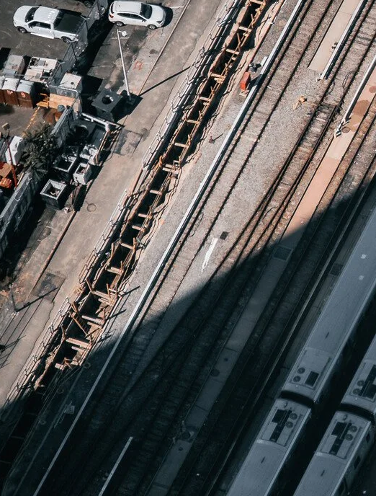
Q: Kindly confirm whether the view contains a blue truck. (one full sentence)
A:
No, there isn't any blue truck down there.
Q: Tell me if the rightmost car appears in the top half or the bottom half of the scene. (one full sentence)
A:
Seen from above, the rightmost car lies in the top half of the view.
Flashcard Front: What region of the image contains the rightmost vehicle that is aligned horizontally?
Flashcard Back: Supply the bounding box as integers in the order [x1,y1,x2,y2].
[106,0,169,35]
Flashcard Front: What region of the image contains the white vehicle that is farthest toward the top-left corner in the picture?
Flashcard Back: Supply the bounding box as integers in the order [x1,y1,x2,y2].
[11,8,88,47]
